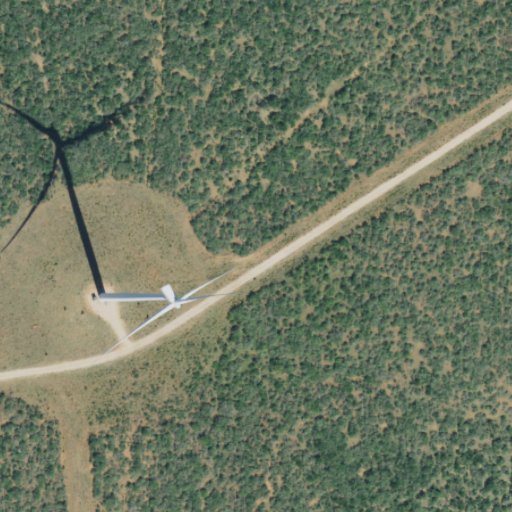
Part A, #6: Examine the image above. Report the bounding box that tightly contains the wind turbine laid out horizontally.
[96,266,240,362]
